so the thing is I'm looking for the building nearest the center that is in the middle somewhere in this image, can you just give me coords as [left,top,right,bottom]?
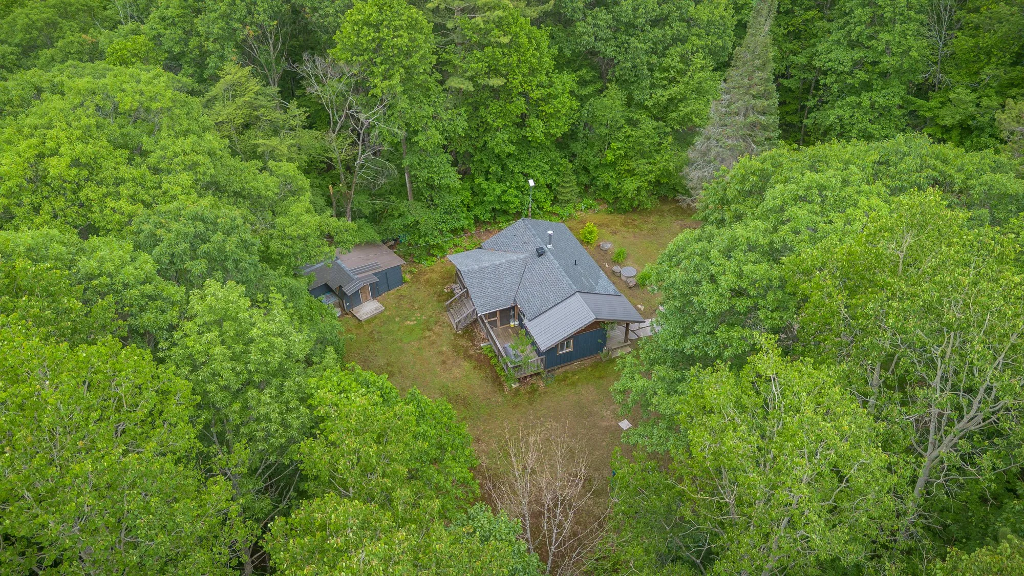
[444,218,646,385]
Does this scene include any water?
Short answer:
No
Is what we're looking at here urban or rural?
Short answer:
rural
